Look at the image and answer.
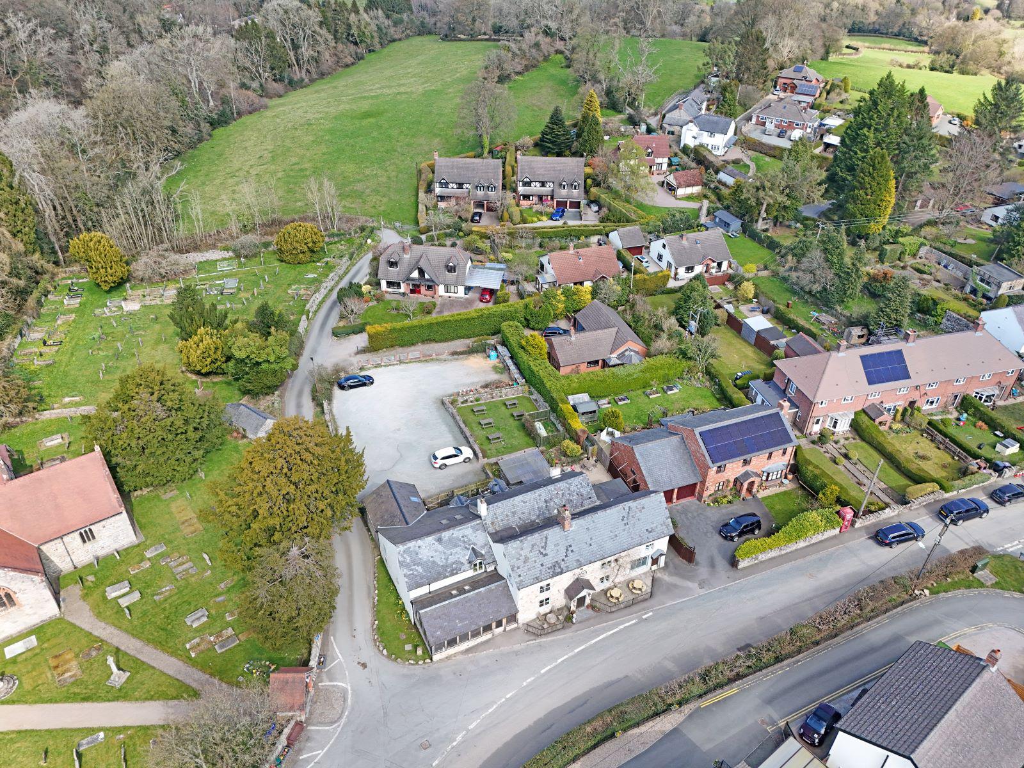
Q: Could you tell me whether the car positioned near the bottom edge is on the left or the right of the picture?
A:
right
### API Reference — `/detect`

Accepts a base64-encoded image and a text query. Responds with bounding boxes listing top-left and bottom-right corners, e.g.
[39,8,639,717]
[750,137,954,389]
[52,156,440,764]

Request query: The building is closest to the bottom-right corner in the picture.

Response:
[828,641,1024,768]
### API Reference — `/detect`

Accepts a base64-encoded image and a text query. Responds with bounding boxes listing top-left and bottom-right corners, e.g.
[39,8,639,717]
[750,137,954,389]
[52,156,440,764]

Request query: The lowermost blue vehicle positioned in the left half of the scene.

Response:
[337,374,374,390]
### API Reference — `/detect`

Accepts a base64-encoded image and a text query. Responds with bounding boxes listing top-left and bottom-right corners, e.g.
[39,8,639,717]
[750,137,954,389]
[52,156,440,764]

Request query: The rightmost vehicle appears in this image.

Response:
[993,480,1024,505]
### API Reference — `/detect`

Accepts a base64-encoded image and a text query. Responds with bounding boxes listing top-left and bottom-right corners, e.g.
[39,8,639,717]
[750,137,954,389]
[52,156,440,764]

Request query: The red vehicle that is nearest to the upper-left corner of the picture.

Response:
[479,290,495,302]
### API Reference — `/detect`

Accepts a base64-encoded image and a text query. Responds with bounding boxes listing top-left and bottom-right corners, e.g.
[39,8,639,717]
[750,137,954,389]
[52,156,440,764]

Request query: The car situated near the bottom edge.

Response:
[800,696,846,746]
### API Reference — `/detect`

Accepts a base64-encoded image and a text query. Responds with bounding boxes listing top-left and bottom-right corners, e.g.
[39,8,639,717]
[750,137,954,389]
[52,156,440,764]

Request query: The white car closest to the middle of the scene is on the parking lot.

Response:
[430,444,474,467]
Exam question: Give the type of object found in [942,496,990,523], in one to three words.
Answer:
car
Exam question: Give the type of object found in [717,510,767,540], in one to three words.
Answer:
car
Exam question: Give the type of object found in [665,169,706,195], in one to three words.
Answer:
building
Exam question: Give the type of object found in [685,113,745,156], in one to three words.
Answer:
house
